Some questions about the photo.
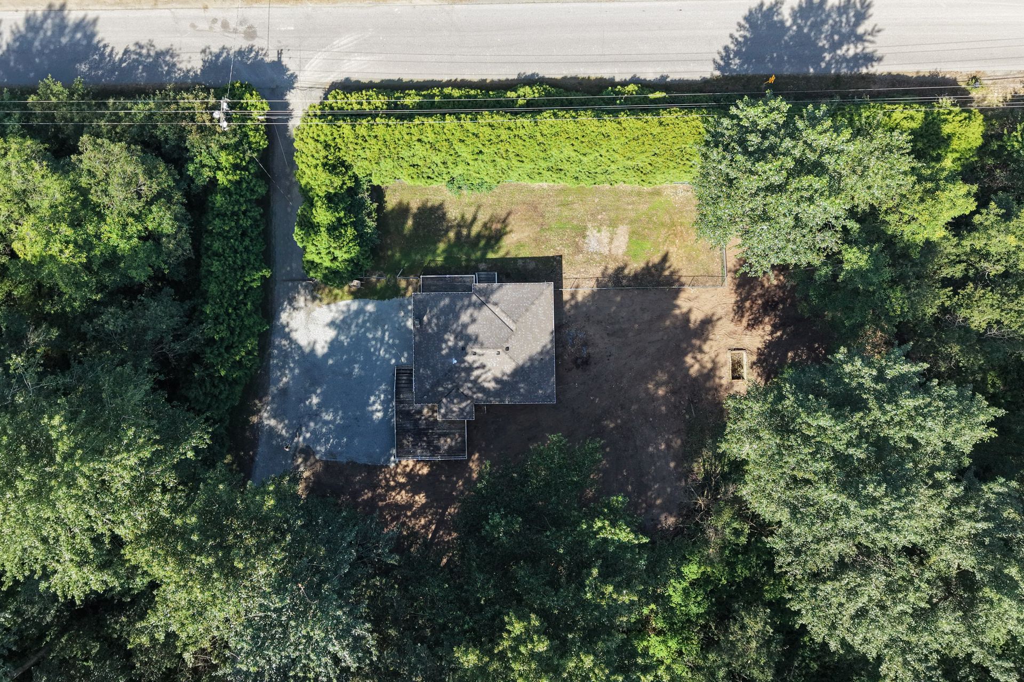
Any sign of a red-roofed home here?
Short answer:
No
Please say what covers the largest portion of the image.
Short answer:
trees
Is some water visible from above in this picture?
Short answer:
No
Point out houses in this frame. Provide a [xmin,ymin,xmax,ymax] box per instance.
[411,281,556,421]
